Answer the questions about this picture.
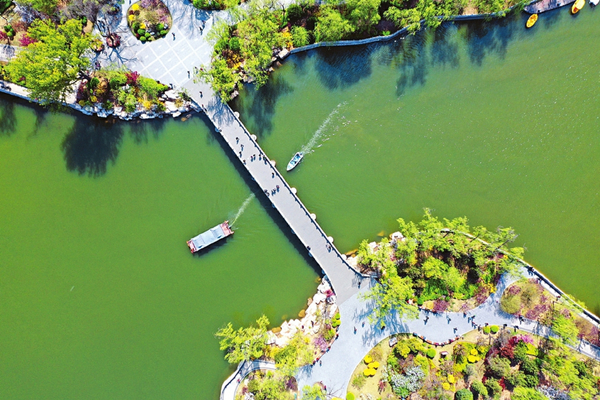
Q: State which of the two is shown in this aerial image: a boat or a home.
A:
boat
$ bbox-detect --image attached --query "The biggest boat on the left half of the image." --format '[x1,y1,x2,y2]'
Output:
[188,221,234,253]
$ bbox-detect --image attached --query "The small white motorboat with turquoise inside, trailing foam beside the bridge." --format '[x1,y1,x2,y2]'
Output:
[287,151,304,170]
